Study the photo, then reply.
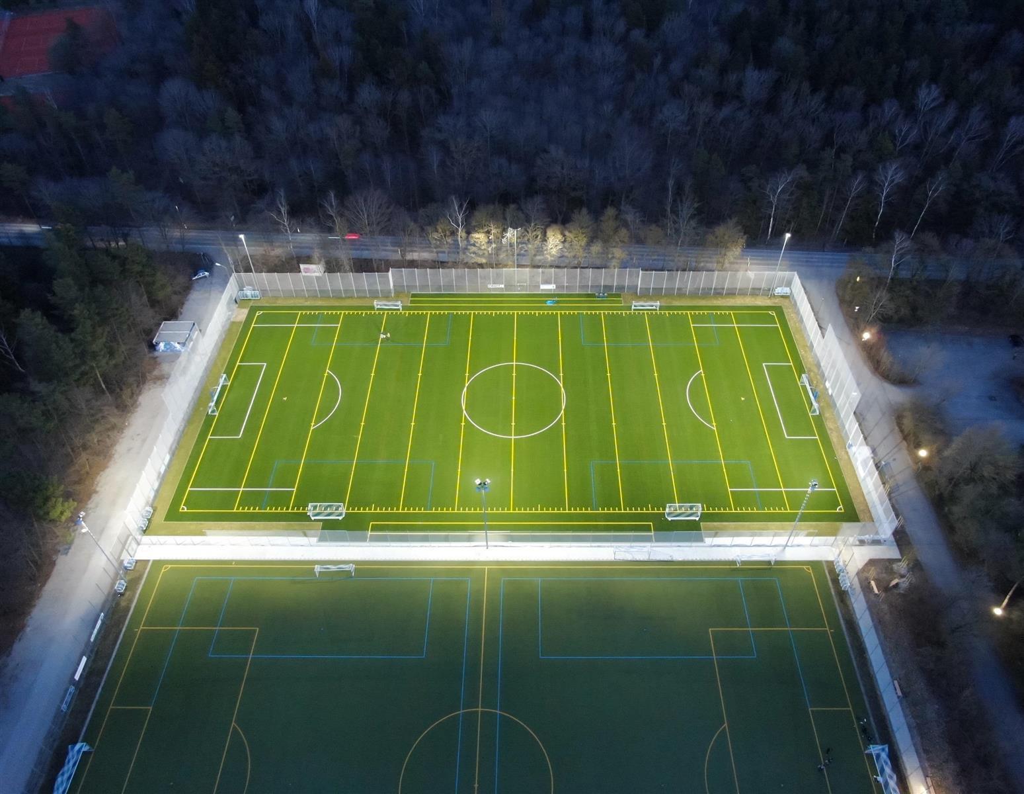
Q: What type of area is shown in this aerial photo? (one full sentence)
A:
This looks like a sports ground.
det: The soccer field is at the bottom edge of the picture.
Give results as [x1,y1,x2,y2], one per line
[66,559,886,794]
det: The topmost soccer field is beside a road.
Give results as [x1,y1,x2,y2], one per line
[164,292,862,537]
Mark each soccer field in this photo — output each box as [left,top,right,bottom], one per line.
[66,559,886,794]
[164,292,862,537]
